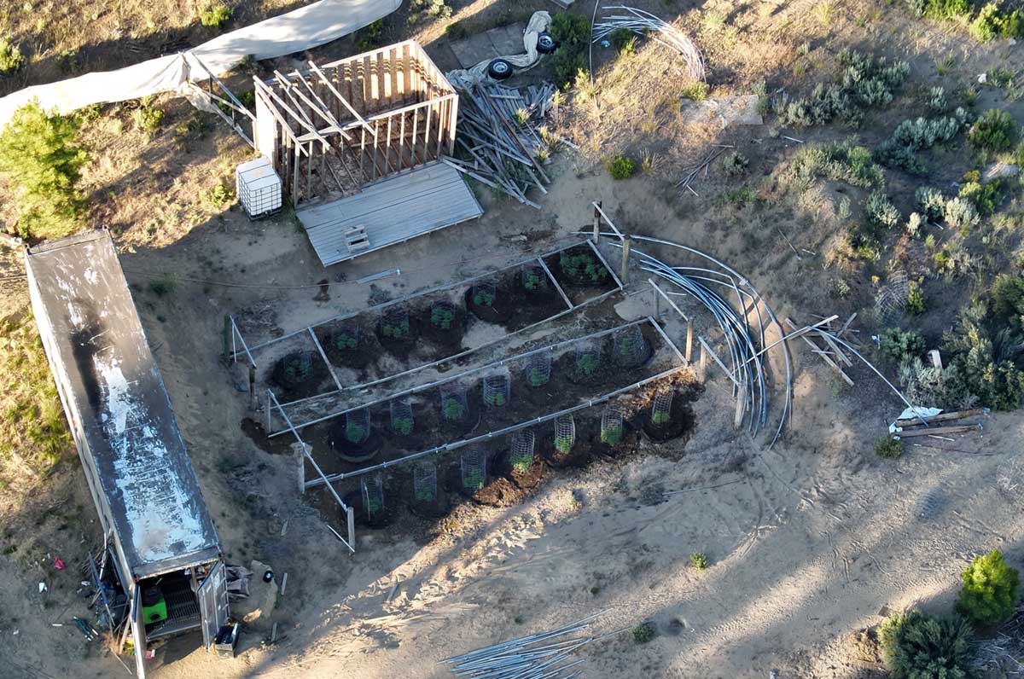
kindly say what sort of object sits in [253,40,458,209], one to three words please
shed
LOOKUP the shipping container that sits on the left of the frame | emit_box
[24,226,229,679]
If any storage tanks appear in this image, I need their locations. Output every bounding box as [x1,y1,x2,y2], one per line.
[235,158,283,221]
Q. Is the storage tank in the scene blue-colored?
No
